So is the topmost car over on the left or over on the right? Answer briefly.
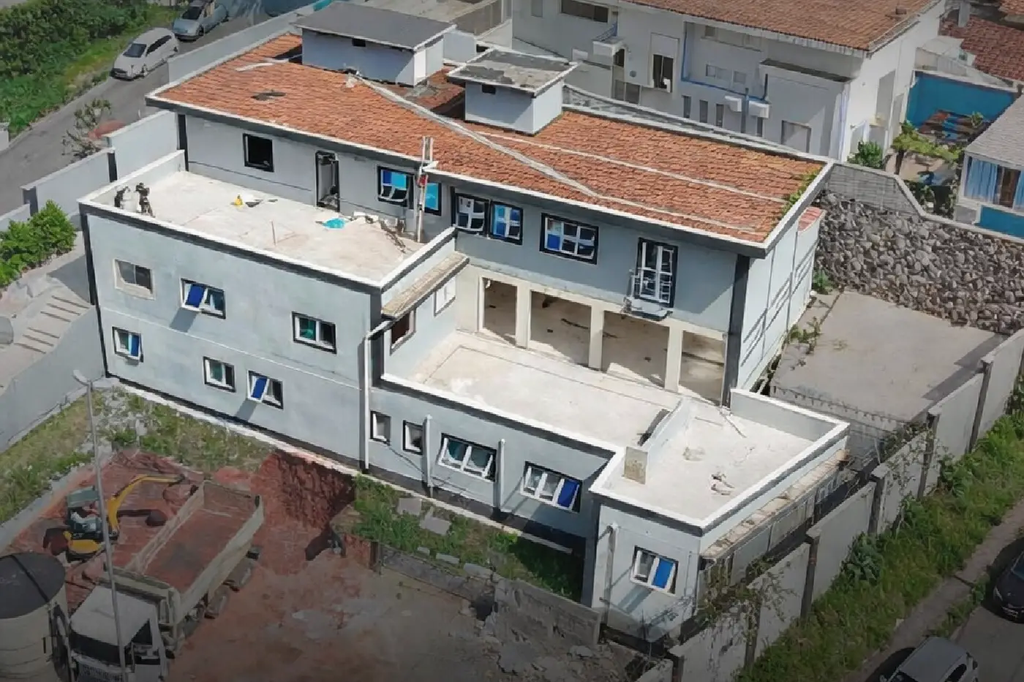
left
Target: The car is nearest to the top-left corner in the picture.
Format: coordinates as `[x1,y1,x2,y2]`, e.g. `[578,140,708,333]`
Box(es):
[105,26,180,84]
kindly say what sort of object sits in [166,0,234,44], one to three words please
car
